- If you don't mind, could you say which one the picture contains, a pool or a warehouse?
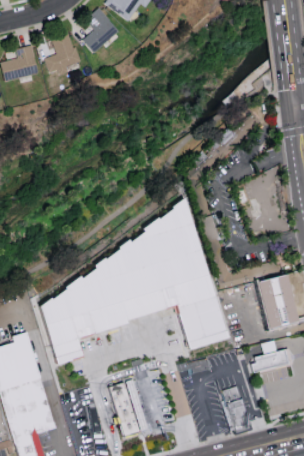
warehouse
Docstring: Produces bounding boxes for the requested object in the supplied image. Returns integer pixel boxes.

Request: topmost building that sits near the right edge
[259,274,304,330]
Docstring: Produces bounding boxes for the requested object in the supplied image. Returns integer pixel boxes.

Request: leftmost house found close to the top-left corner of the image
[1,46,38,81]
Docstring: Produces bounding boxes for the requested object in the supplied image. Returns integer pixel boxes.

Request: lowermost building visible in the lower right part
[228,400,248,434]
